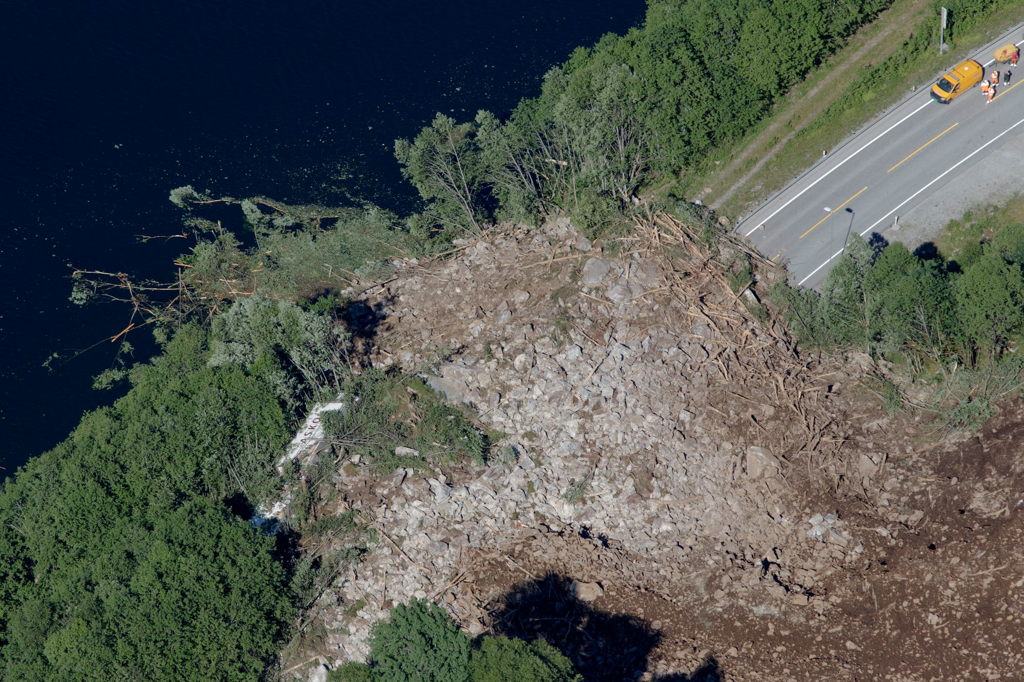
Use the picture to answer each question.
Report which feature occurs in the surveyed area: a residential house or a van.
van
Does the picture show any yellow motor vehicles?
Yes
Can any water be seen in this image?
Yes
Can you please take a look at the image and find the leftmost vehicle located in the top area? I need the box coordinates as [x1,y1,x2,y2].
[929,58,985,105]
